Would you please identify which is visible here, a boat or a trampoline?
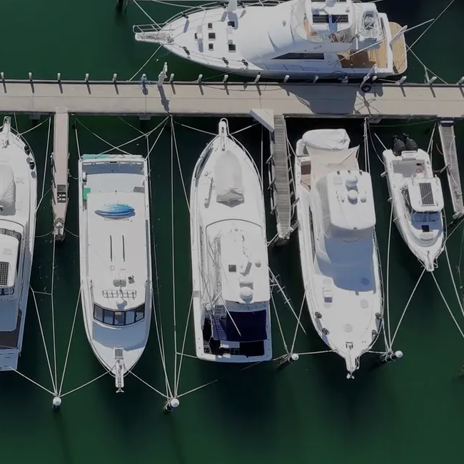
boat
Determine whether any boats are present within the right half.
Yes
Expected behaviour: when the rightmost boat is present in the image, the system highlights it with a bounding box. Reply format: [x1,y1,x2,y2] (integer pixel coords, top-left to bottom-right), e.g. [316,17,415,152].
[383,130,450,276]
